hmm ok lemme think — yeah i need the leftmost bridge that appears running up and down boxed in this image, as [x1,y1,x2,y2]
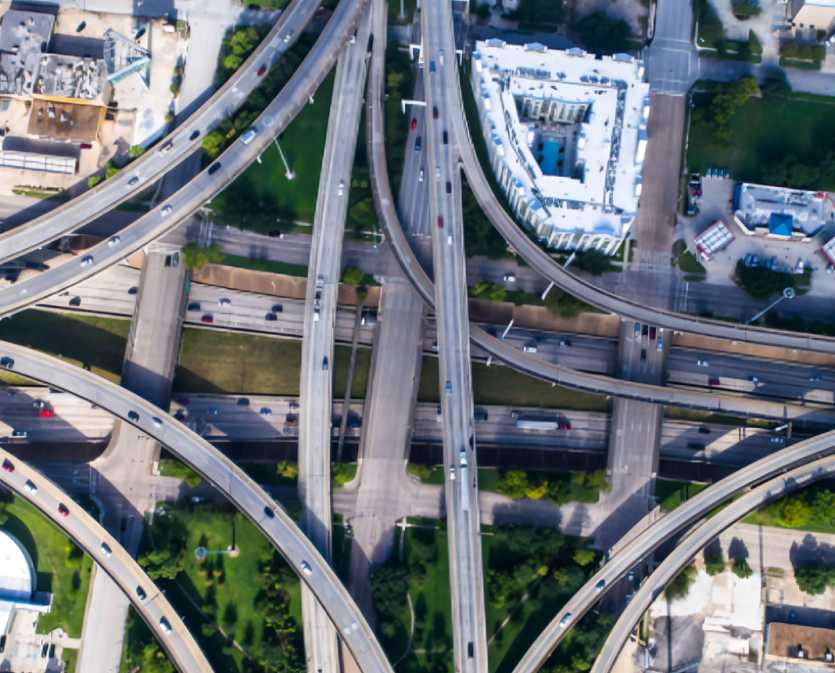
[88,247,186,463]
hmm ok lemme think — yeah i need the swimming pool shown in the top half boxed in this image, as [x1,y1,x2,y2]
[539,137,560,176]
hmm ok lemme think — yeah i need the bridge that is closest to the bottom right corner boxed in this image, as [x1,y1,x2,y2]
[605,316,673,479]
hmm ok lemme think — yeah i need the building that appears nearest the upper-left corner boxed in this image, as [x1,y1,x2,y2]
[0,7,68,58]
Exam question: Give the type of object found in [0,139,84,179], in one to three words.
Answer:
shed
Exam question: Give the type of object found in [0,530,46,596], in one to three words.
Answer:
building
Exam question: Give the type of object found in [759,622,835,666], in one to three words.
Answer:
building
